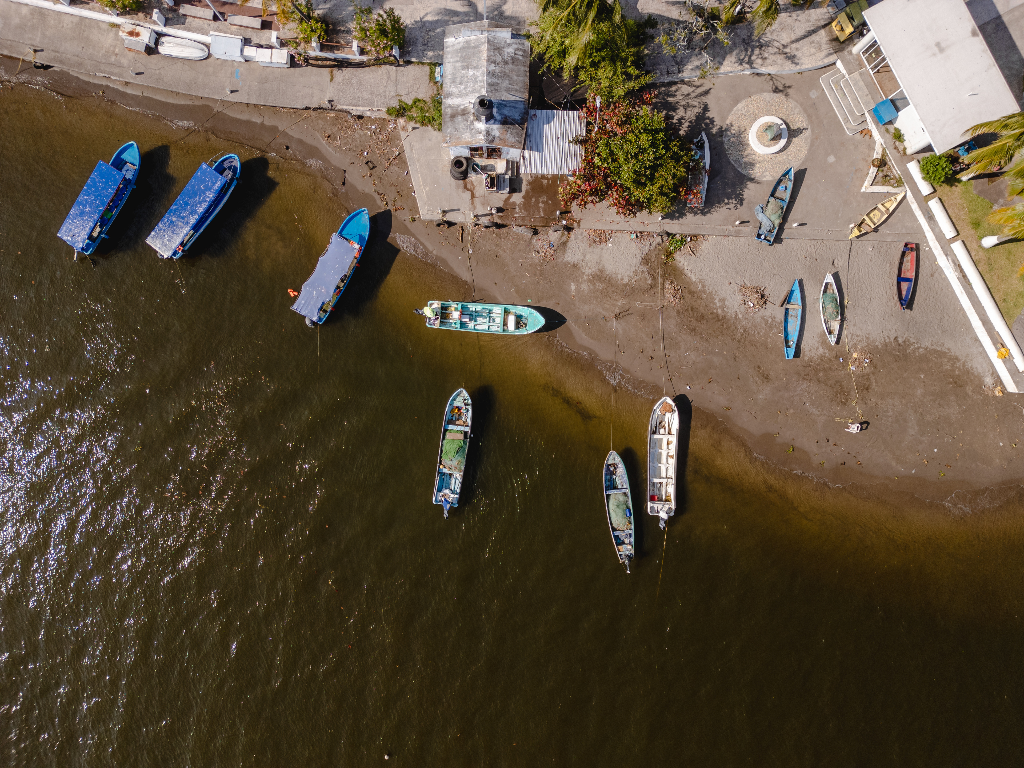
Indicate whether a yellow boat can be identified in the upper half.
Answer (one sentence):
Yes, a yellow boat appears in the upper half.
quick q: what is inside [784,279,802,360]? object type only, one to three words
boat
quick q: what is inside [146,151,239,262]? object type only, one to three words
boat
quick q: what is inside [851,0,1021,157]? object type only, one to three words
building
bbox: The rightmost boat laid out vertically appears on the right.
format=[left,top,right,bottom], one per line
[895,242,916,311]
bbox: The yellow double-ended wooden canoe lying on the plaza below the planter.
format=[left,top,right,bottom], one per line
[849,191,906,239]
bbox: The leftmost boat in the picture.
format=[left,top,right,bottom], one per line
[57,141,140,264]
